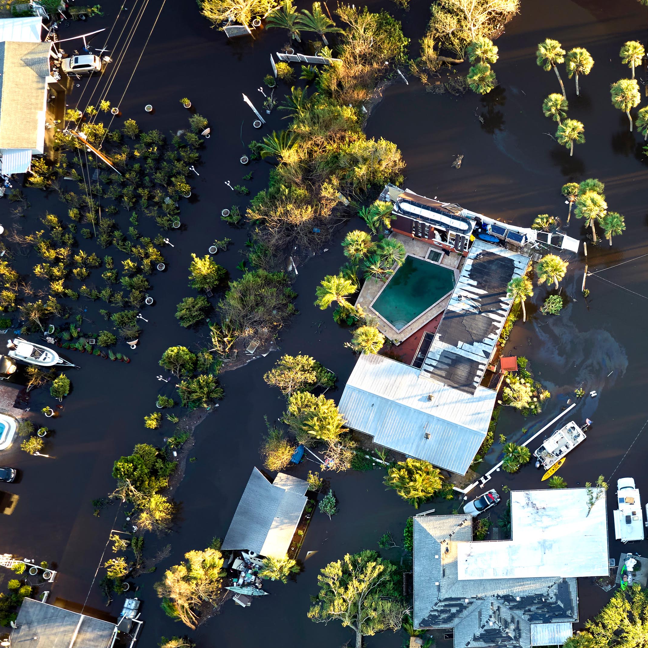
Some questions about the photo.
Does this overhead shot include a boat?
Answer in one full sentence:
Yes, this view includes a boat.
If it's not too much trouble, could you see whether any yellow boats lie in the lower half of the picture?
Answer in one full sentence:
Yes, a yellow boat shows up in the lower half of the picture.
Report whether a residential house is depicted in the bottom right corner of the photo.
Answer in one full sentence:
Yes, you'll find a residential house in the bottom right corner of the photo.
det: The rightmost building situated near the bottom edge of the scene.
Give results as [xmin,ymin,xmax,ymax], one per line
[413,485,613,648]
